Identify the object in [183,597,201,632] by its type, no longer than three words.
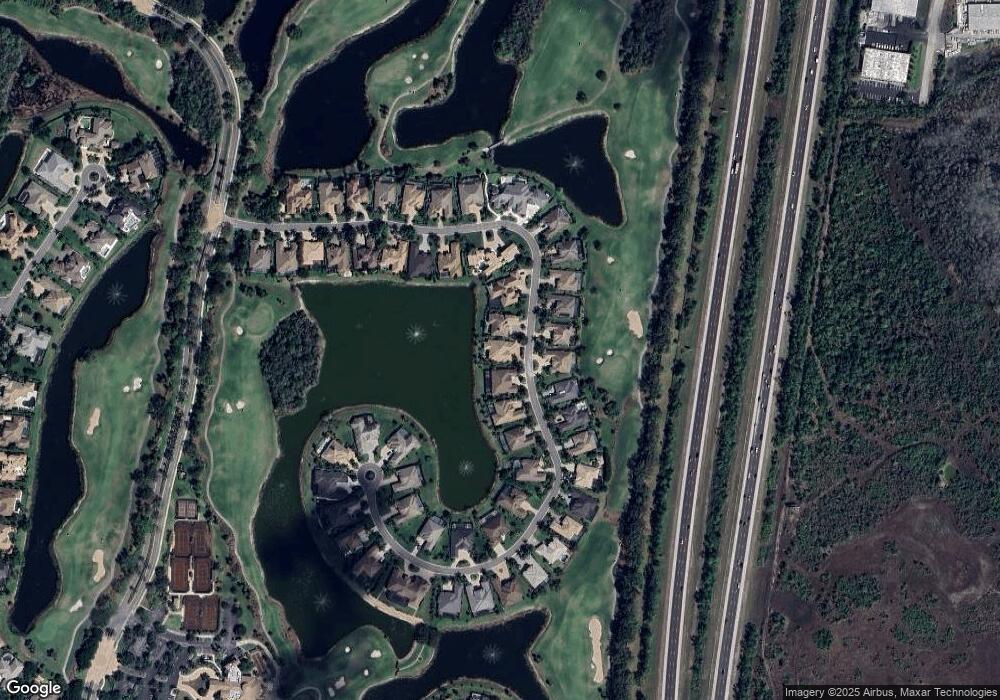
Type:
tennis court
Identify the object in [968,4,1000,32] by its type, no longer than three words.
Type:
building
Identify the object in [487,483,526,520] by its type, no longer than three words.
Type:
house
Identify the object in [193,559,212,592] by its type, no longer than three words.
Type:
tennis court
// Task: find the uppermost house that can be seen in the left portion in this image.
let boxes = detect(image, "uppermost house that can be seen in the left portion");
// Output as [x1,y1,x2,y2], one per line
[70,114,113,146]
